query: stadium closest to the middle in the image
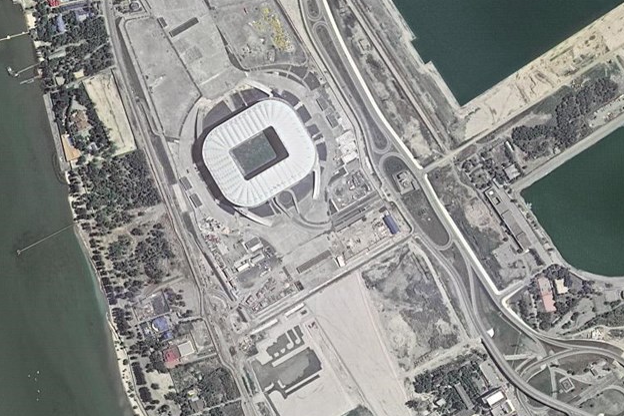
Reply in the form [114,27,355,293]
[203,80,324,227]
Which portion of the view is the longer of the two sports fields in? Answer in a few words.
top left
